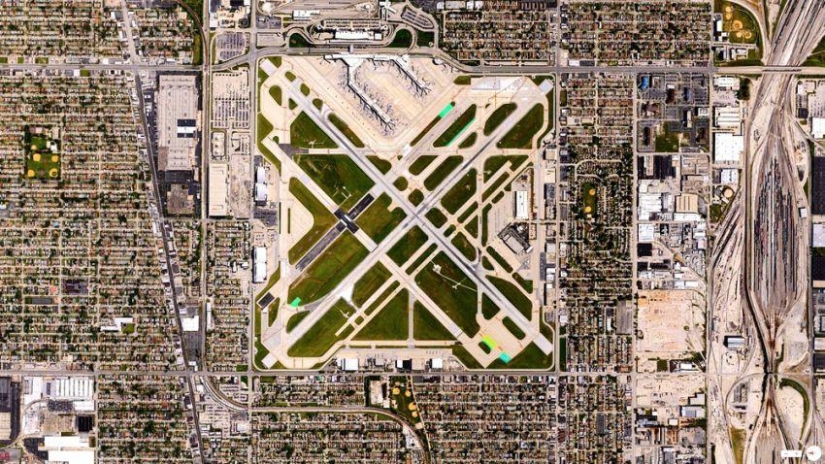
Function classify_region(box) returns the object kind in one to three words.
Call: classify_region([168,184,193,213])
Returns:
building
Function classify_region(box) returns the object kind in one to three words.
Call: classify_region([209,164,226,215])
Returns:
building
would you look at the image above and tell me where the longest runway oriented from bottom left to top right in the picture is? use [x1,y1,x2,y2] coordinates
[272,82,543,358]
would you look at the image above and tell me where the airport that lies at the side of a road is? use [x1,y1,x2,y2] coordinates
[253,54,555,371]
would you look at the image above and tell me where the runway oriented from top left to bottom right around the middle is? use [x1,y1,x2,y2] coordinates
[261,135,491,367]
